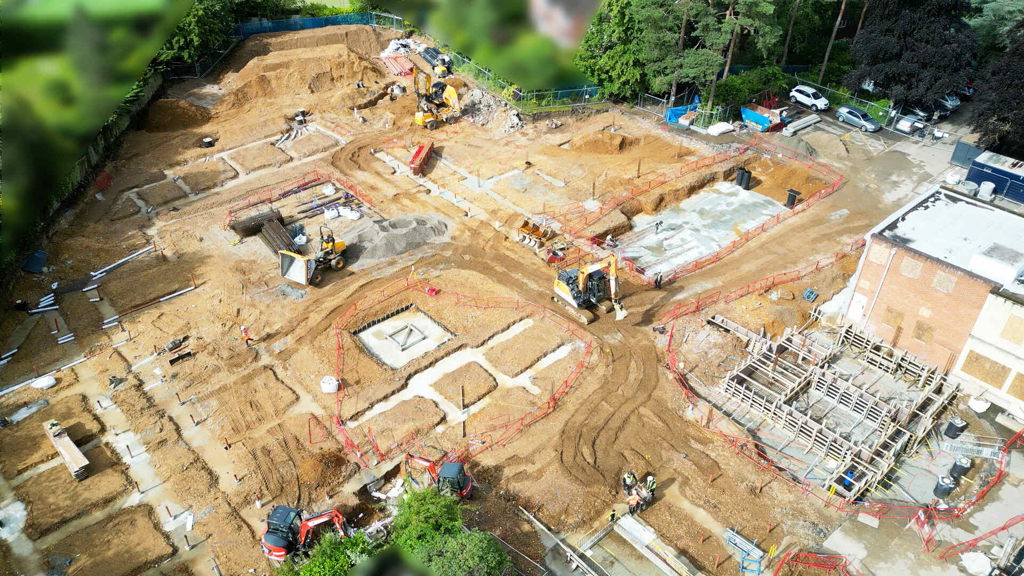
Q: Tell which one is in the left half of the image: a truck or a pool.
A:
truck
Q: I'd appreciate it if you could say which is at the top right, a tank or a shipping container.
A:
shipping container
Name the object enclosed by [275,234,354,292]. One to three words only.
truck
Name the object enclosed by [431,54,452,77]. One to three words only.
truck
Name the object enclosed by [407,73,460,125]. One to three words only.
work vehicle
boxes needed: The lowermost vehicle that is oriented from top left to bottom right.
[410,434,484,509]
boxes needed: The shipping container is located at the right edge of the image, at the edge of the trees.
[953,125,1018,171]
